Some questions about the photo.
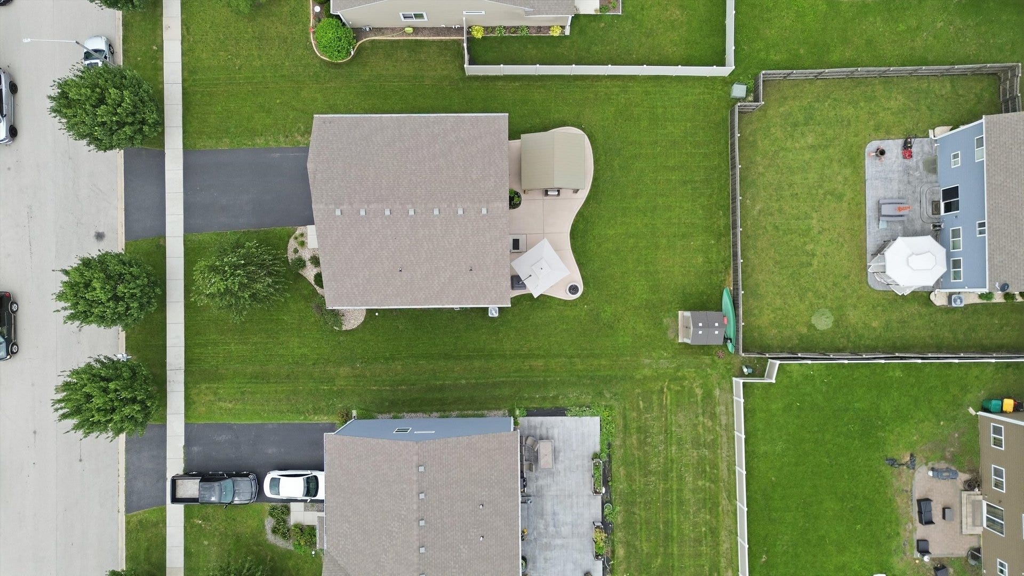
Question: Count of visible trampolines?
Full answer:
The photo contains no trampolines.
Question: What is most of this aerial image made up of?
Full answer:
The scene is dominated by grass.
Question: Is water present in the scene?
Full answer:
No, there's no water in this view.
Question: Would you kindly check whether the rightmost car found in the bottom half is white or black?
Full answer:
The color of the rightmost car found in the bottom half is white.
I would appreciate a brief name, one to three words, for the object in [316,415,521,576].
house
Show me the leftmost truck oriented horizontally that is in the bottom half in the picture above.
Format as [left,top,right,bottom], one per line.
[170,470,260,509]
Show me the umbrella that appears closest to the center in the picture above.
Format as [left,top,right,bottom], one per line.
[511,239,570,298]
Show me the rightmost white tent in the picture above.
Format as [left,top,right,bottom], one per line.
[865,235,947,291]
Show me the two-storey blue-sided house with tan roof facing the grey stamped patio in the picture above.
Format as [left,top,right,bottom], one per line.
[930,112,1024,297]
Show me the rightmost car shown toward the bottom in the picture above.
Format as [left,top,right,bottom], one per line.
[263,468,323,503]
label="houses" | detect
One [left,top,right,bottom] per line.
[975,412,1024,576]
[930,112,1024,297]
[330,0,575,31]
[305,113,509,309]
[316,415,521,576]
